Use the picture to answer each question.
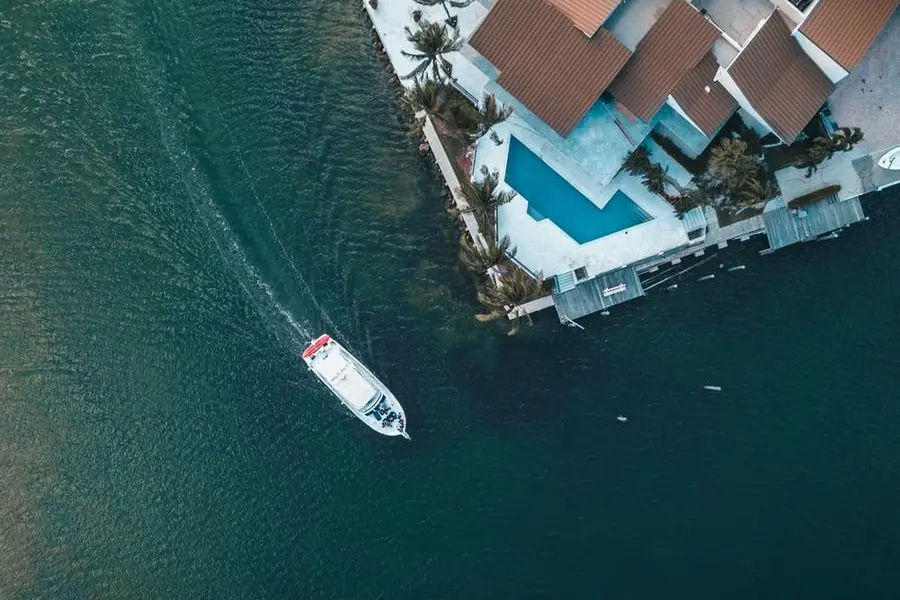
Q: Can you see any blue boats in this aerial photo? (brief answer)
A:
No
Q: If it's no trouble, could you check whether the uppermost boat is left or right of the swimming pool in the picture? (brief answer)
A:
to its right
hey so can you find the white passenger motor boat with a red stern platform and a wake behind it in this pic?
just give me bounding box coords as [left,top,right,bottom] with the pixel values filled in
[303,332,412,441]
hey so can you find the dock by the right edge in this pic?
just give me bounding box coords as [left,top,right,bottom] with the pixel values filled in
[766,200,867,250]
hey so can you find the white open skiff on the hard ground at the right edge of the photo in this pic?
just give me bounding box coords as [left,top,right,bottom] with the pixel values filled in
[877,148,900,171]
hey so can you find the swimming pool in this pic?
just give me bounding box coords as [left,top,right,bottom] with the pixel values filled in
[504,135,654,244]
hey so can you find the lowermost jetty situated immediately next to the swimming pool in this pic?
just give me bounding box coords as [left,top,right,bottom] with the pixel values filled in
[553,269,646,320]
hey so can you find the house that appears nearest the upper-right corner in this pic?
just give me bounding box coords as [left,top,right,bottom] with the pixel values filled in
[758,0,900,85]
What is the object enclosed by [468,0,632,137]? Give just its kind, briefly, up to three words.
house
